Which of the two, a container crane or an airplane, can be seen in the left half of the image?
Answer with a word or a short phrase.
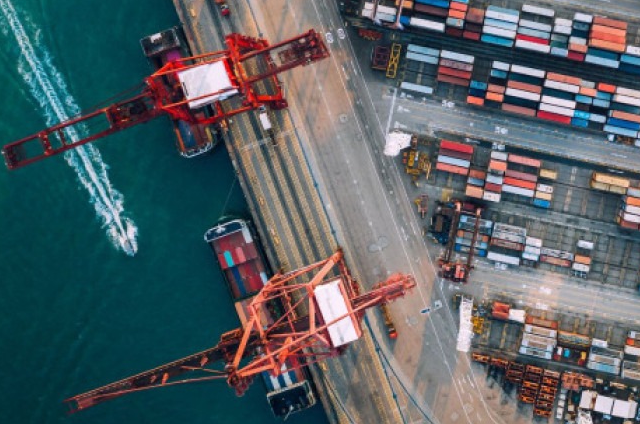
container crane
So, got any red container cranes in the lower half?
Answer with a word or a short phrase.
Yes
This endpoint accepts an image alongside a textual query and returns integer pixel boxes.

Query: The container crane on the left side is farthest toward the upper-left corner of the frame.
[0,28,322,175]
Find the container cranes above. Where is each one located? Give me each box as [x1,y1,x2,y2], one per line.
[53,242,414,417]
[0,28,322,175]
[374,0,405,32]
[437,197,481,276]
